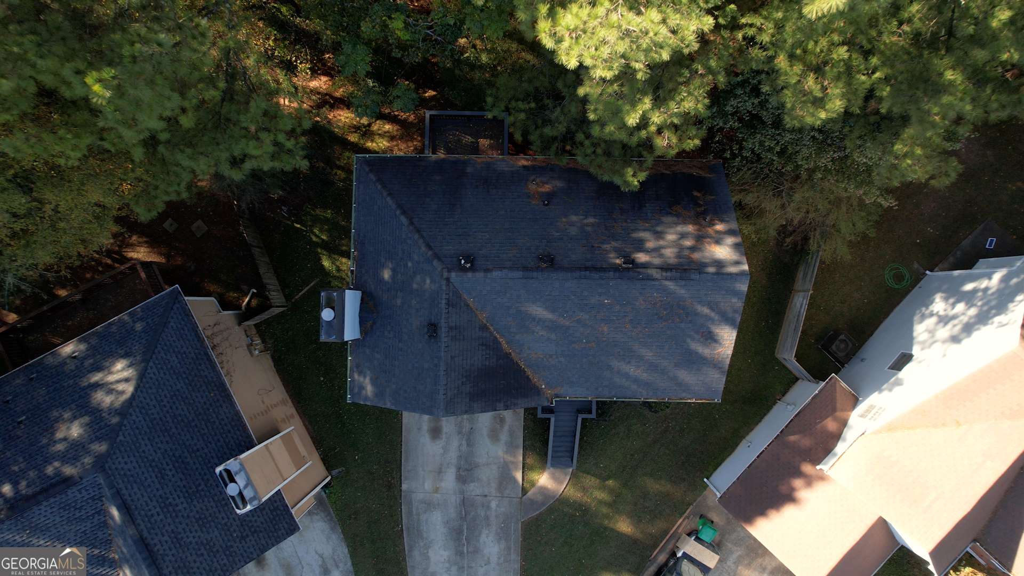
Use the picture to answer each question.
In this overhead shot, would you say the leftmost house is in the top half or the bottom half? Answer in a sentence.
You can find the leftmost house in the bottom half.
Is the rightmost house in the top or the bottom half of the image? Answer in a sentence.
You can find the rightmost house in the bottom half.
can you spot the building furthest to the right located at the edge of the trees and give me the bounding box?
[695,255,1024,576]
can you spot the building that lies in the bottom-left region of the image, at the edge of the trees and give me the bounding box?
[0,285,330,576]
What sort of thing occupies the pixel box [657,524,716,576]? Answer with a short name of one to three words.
vehicle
